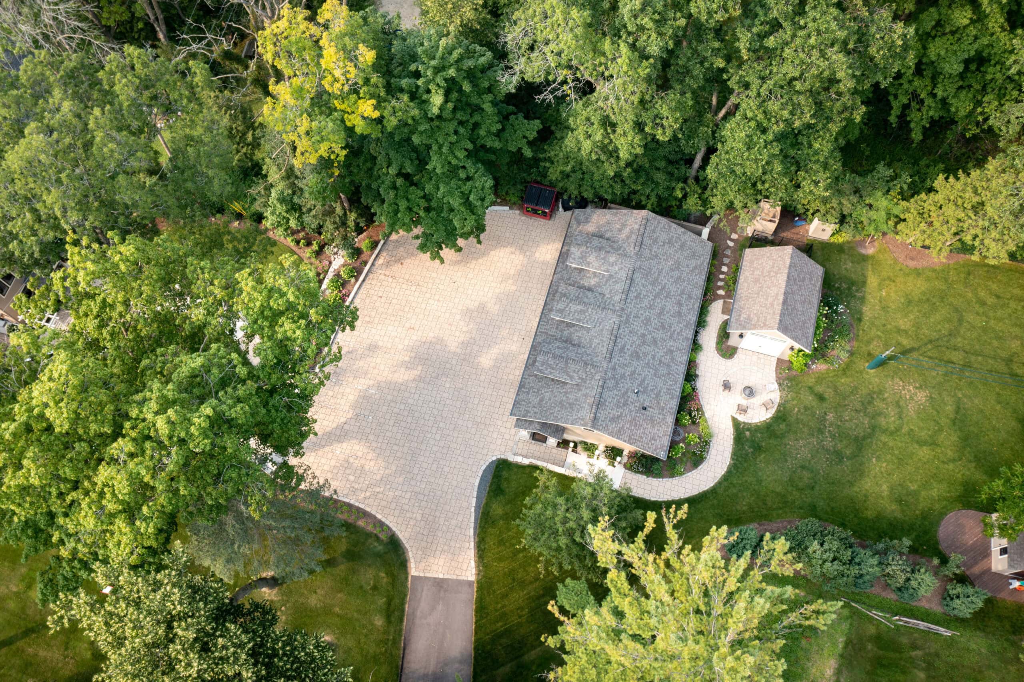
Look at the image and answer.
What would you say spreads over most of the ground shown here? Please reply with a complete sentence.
The bulk of the photo consists of trees.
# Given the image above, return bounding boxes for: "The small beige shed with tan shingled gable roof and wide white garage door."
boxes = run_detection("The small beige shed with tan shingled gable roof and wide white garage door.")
[724,245,826,362]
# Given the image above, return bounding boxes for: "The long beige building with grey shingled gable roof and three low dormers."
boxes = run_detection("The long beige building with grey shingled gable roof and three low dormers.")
[509,209,715,461]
